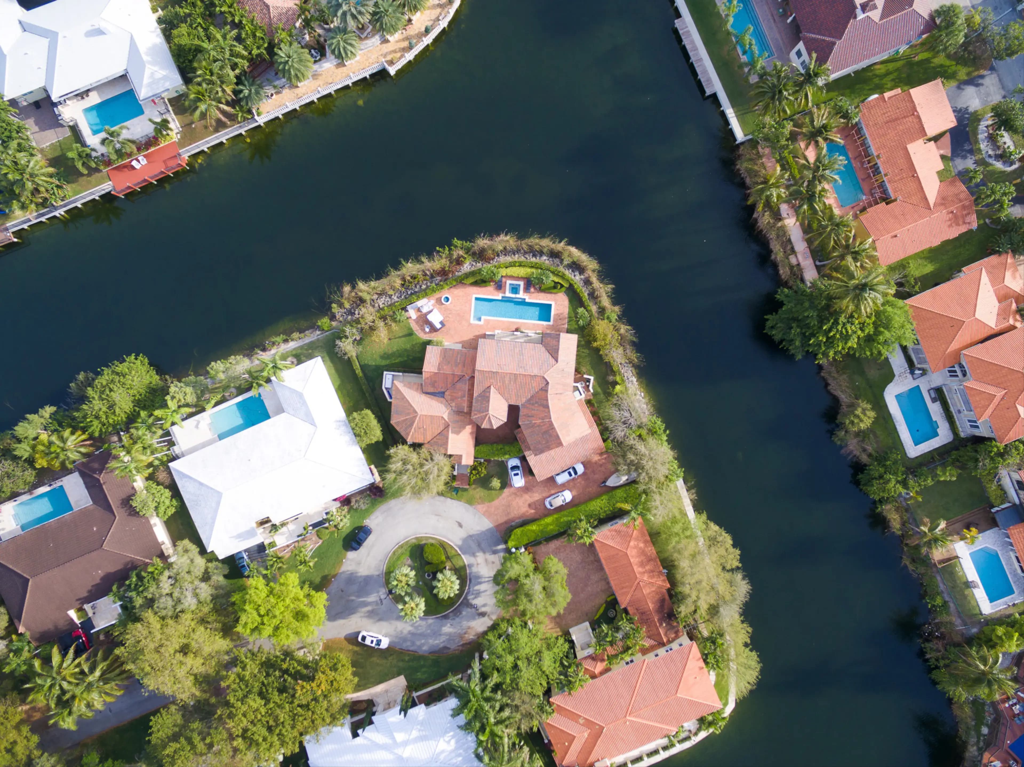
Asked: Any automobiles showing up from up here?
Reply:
Yes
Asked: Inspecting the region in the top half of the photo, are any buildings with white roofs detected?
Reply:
Yes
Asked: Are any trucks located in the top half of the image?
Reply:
No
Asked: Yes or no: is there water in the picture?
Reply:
Yes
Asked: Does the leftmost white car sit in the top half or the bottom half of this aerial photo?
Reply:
bottom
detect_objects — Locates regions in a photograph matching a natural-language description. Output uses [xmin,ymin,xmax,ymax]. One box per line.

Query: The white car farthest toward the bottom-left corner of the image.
[358,630,389,650]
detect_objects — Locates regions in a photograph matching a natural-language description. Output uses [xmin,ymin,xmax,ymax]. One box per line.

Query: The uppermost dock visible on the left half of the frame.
[101,138,190,198]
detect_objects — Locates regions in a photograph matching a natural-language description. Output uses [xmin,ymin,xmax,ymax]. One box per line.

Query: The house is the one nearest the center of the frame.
[390,329,605,482]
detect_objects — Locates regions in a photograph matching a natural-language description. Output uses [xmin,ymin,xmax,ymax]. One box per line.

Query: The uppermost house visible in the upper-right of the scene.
[780,0,936,85]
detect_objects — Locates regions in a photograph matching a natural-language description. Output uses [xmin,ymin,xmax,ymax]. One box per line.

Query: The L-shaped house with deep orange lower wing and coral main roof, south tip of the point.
[543,517,723,767]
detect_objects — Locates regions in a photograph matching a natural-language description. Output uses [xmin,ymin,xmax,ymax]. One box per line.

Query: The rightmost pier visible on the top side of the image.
[675,17,716,95]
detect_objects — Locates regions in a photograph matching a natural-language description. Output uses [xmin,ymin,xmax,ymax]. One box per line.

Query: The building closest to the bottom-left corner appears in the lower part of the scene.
[0,450,168,647]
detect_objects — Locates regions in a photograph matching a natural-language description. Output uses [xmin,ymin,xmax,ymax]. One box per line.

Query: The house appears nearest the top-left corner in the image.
[0,0,186,106]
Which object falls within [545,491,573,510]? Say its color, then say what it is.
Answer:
white car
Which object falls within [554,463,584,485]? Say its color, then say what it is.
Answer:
white car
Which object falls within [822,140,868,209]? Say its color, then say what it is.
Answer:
blue swimming pool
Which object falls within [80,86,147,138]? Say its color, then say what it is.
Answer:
blue swimming pool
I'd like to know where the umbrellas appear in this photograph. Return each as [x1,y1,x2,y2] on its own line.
[1016,699,1024,711]
[1013,714,1024,726]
